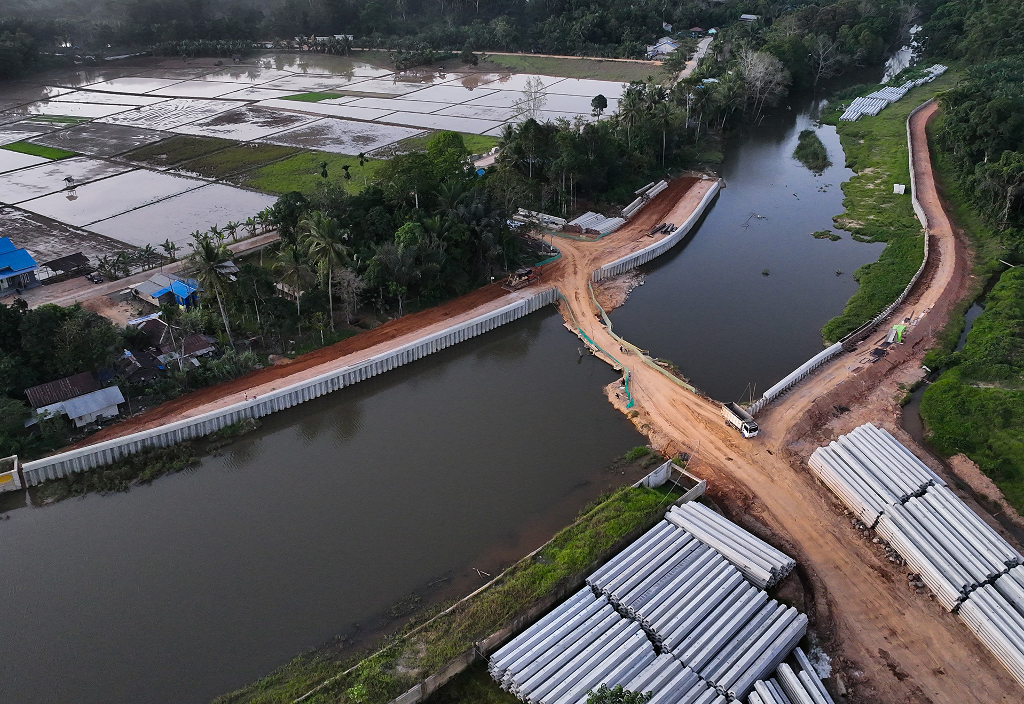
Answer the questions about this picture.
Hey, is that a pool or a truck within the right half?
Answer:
truck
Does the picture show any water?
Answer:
Yes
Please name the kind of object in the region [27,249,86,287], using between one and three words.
building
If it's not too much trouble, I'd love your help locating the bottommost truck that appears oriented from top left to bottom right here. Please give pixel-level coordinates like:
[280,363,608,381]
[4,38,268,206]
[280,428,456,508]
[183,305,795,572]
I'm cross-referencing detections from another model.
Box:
[722,397,768,438]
